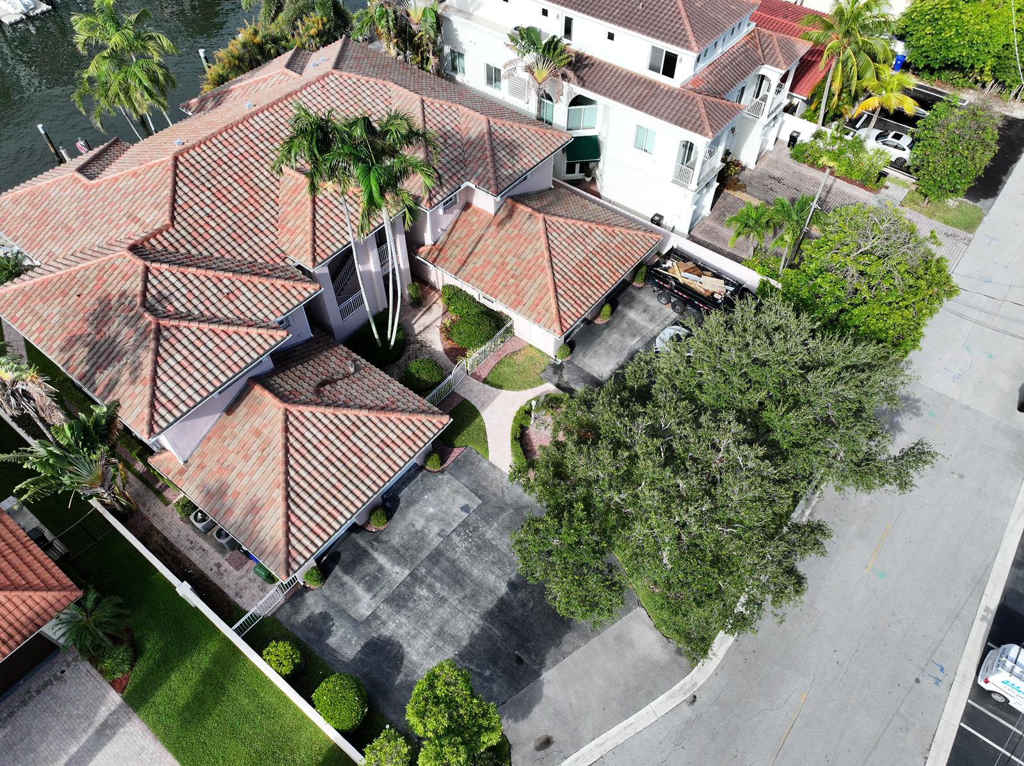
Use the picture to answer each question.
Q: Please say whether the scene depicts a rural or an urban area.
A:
urban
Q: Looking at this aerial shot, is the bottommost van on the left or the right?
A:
right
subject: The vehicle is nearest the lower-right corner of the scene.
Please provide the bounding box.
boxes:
[972,643,1024,718]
